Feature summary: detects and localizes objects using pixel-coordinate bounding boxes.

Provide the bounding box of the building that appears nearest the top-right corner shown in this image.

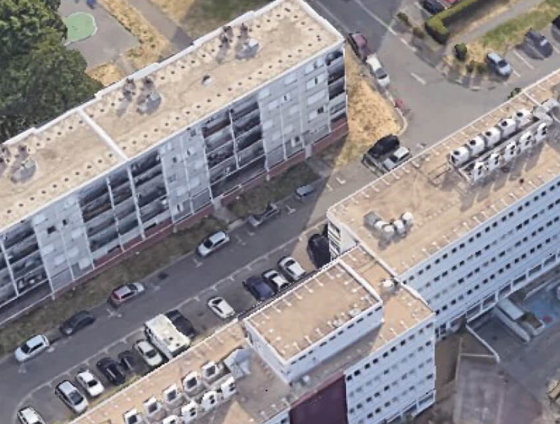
[328,68,560,346]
